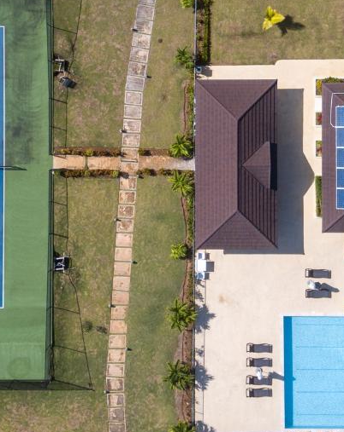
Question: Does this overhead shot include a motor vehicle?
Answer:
No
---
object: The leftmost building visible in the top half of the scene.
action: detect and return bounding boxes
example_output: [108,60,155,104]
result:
[196,79,278,250]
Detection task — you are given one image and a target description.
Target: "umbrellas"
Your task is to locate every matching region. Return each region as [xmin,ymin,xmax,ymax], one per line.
[310,283,322,291]
[254,367,262,382]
